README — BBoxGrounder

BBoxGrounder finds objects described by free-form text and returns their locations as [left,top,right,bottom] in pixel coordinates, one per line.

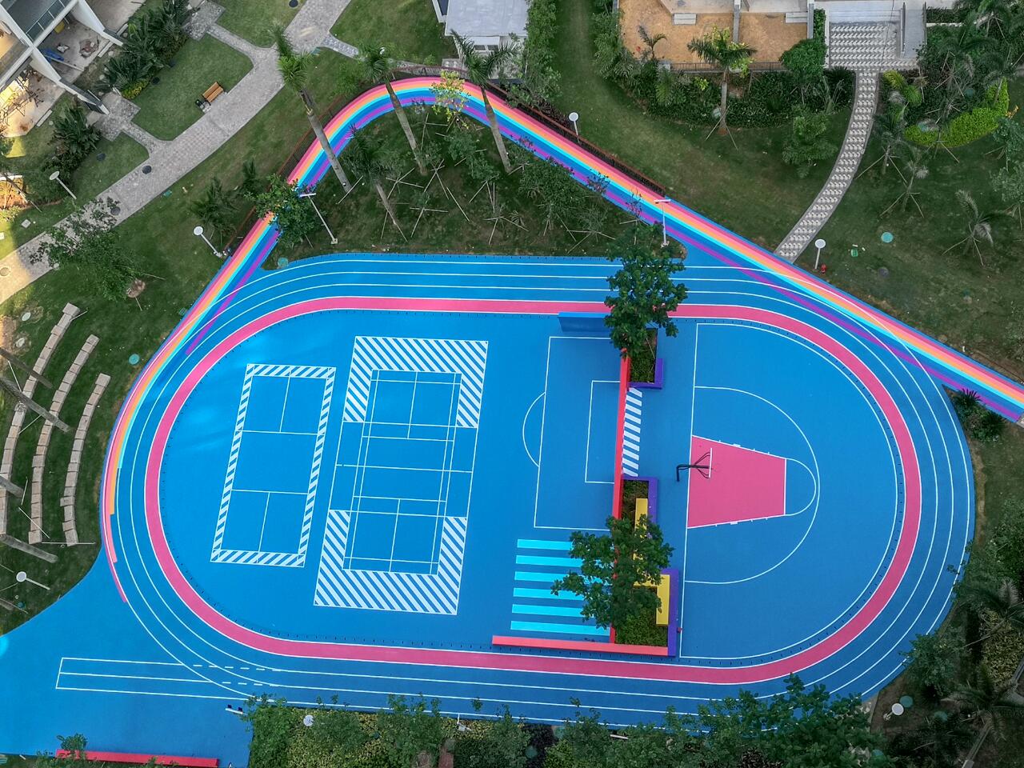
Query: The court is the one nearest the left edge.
[210,364,335,567]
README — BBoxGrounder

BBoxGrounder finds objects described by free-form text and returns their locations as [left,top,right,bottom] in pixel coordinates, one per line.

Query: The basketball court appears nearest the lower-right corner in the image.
[681,324,898,664]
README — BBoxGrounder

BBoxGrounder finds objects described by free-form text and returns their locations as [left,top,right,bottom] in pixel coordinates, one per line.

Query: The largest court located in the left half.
[314,337,488,615]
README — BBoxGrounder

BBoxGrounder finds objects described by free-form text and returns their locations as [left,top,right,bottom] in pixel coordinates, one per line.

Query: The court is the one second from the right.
[522,336,621,531]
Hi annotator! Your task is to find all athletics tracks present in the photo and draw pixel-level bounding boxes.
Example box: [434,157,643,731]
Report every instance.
[101,252,973,736]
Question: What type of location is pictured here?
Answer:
sports ground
